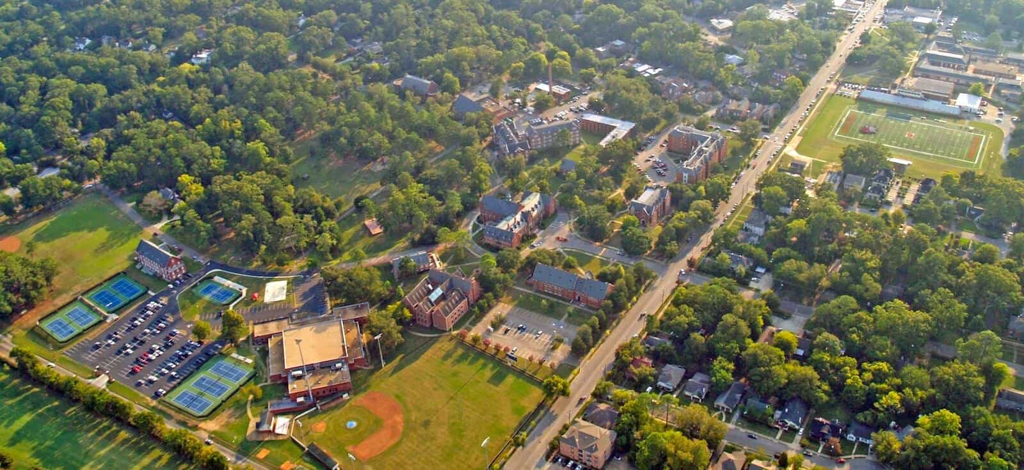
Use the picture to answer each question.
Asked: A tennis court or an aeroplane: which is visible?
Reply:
tennis court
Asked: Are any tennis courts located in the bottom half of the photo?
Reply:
Yes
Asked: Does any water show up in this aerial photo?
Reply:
No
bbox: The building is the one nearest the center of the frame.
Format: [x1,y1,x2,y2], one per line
[475,188,557,255]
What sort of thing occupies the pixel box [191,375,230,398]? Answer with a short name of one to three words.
tennis court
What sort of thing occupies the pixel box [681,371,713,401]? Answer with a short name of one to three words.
house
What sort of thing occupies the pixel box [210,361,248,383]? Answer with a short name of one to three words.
tennis court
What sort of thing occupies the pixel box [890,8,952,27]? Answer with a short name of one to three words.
building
